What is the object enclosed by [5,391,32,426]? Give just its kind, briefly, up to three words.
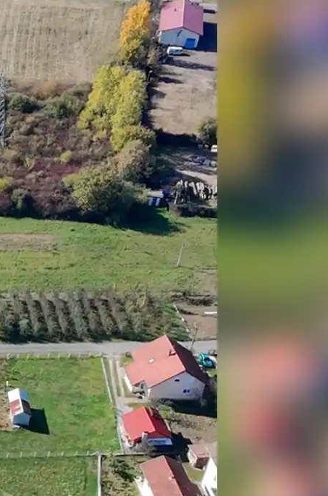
shed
